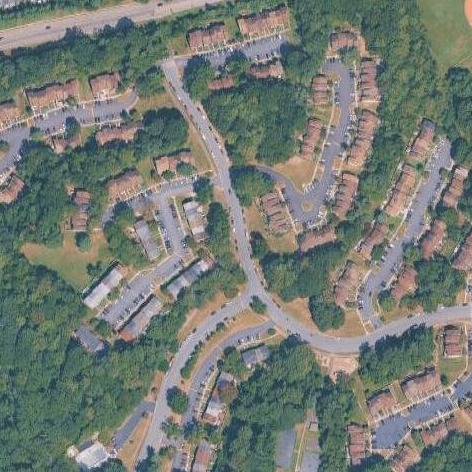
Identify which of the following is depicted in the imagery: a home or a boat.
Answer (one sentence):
The one in the frame is a home.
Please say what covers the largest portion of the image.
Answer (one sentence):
The bulk of the photo consists of trees.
